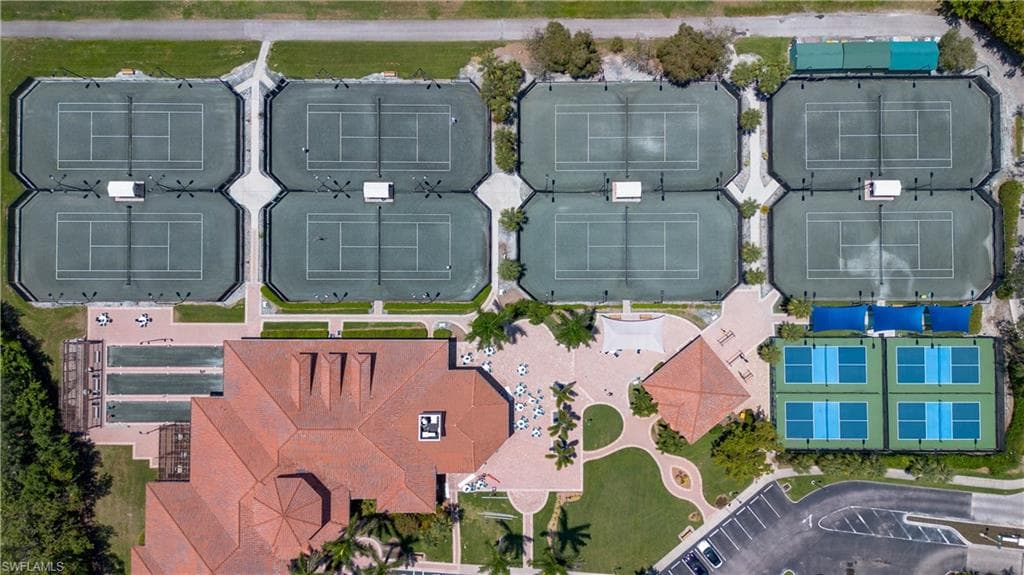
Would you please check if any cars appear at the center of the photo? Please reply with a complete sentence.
No, no car is visible at the center of the photo.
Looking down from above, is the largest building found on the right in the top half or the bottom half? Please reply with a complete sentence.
The largest building found on the right is in the bottom half of the image.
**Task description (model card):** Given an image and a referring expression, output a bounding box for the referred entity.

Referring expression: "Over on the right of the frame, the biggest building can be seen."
[642,334,751,444]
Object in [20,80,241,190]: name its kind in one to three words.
tennis court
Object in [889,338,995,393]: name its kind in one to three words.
sports court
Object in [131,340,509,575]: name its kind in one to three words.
building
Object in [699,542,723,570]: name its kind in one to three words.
car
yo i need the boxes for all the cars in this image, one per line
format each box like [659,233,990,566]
[684,554,707,575]
[699,542,723,570]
